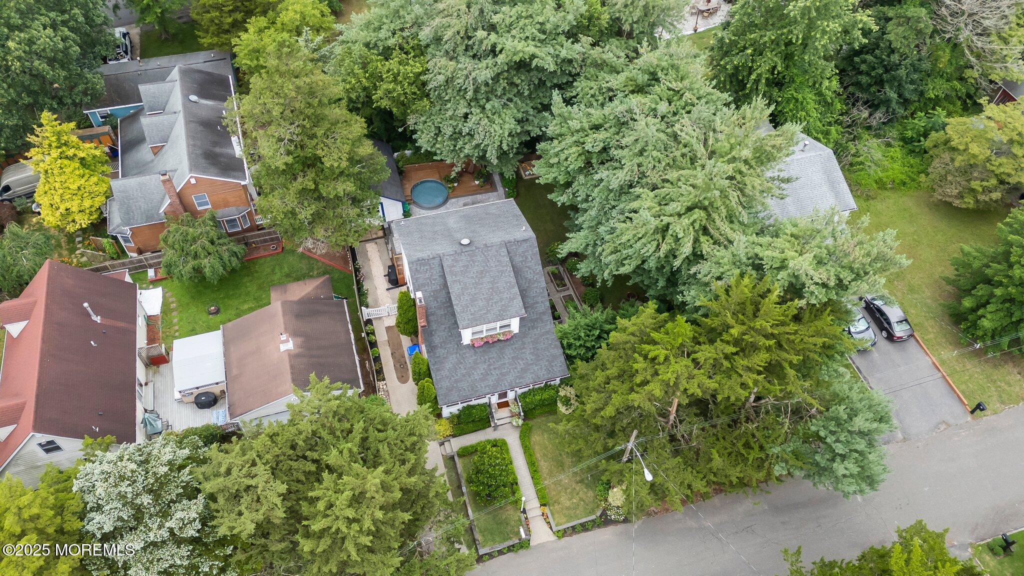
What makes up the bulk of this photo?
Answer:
trees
